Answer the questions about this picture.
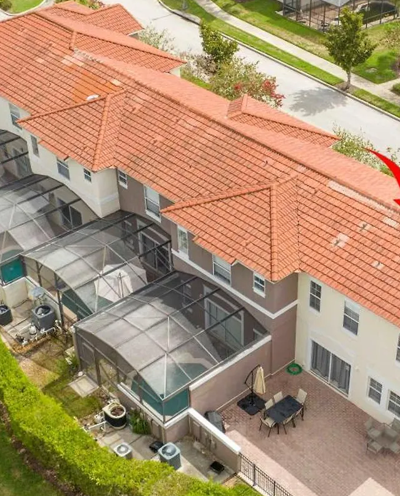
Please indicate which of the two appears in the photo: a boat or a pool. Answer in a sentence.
Looking from above, you can make out a pool.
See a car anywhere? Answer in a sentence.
No, no car can be seen from above.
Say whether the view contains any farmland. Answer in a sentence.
No, there's no farmland in this view.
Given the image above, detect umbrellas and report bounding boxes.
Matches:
[240,365,269,414]
[84,266,143,308]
